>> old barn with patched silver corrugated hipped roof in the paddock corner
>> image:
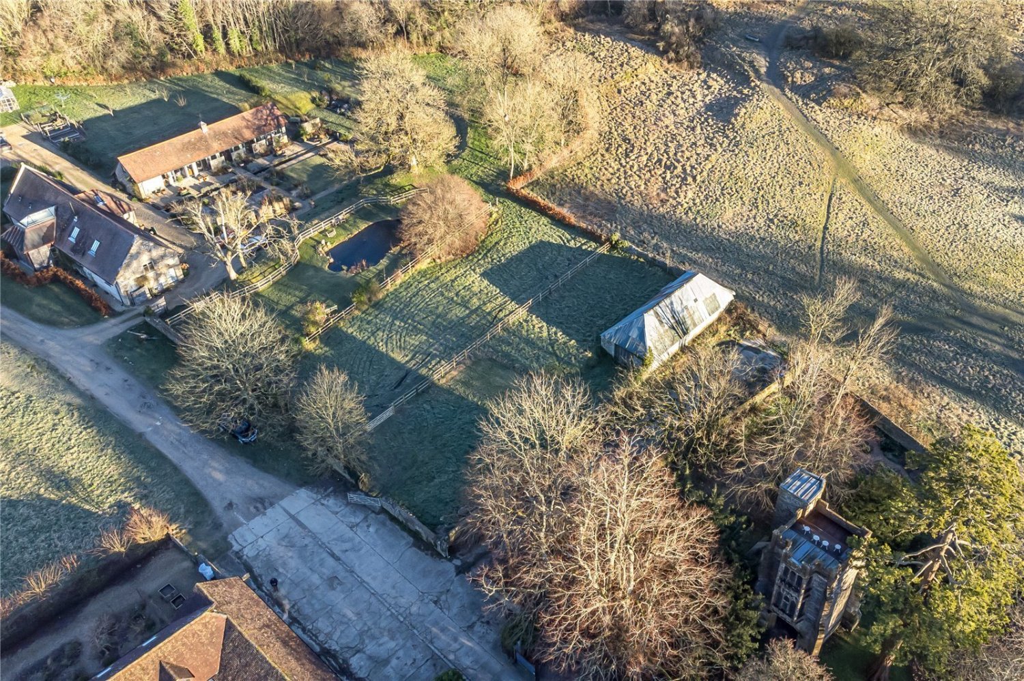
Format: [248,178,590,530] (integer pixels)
[591,267,740,381]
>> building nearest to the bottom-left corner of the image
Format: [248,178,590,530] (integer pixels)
[88,570,340,681]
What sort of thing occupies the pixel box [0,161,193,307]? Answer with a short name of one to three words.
house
